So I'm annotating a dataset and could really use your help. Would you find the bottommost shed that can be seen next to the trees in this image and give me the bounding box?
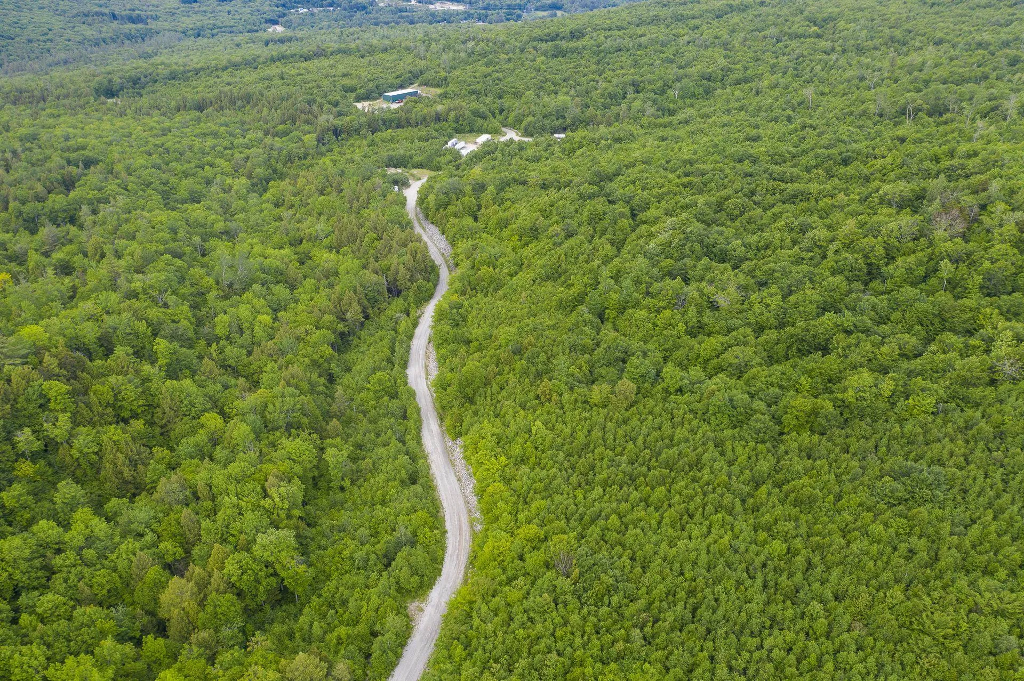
[382,87,419,102]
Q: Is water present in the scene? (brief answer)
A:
No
